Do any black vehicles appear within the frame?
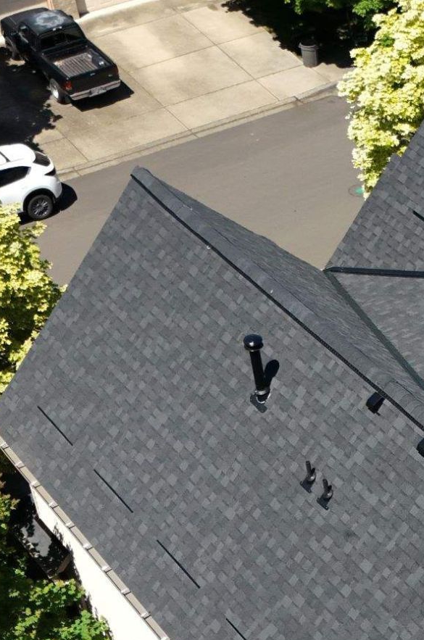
Yes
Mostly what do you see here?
buildings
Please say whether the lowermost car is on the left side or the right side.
left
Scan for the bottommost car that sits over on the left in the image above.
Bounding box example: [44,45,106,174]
[0,140,70,219]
